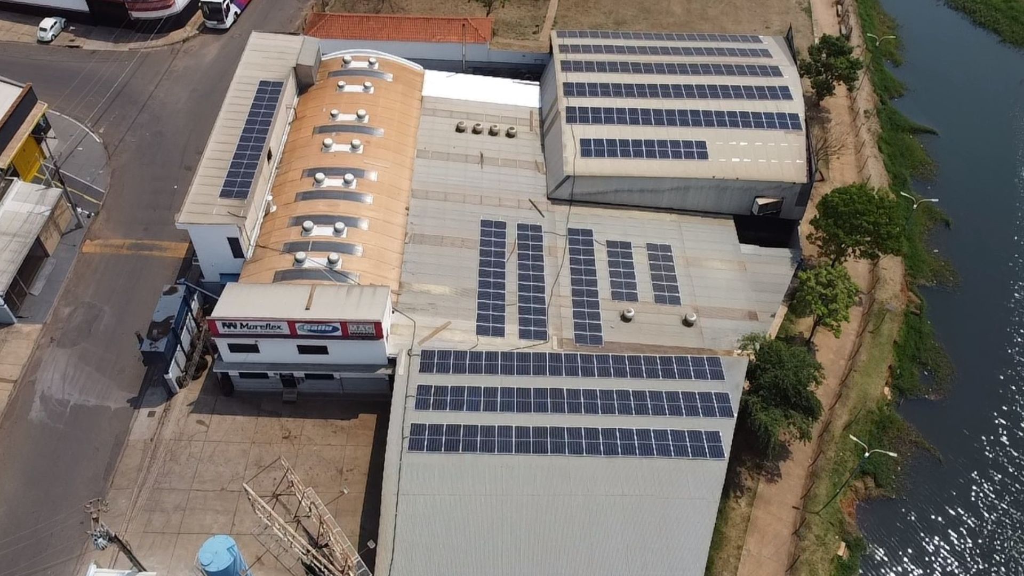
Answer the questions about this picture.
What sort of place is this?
industrial area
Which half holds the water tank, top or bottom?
bottom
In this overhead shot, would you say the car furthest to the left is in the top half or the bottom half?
top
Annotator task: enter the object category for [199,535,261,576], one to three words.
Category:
water tank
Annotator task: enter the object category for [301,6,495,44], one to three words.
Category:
building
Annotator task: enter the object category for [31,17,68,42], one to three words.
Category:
car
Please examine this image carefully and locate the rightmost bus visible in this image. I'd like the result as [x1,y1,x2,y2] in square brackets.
[197,0,247,27]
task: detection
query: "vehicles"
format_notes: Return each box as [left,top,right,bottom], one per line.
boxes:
[197,0,247,27]
[31,17,68,42]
